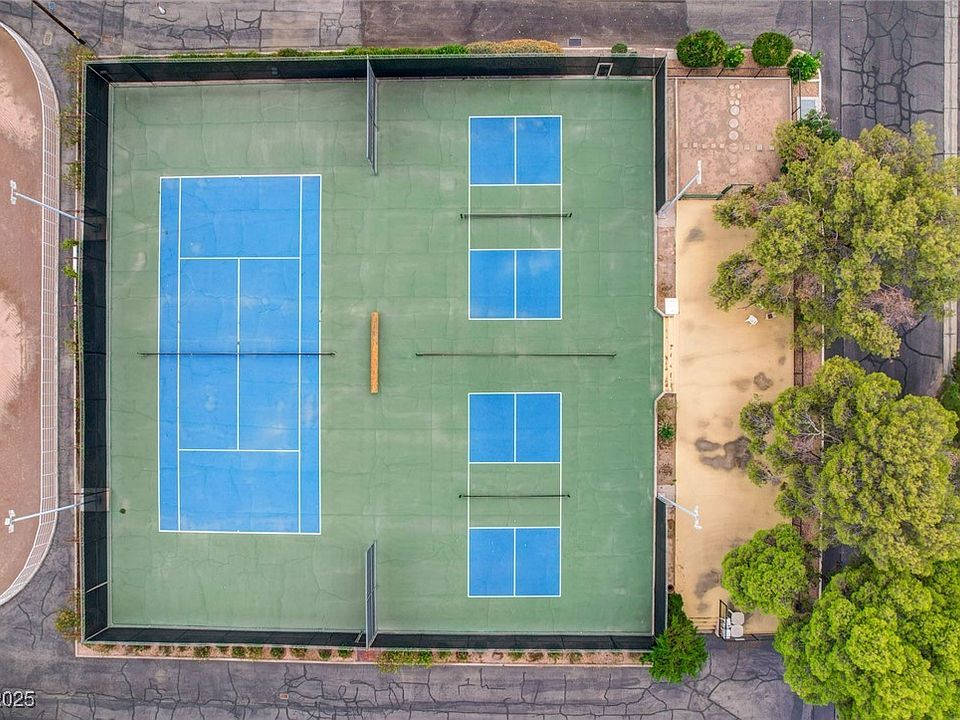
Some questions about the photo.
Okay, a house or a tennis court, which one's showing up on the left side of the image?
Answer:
tennis court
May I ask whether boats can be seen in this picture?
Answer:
No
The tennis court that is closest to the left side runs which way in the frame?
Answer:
up and down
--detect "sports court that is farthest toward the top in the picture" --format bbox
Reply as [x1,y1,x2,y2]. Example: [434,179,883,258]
[469,114,562,321]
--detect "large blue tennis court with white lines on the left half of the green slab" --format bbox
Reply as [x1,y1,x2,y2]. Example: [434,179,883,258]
[158,174,321,534]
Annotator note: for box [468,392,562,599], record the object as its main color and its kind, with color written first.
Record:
blue sports court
